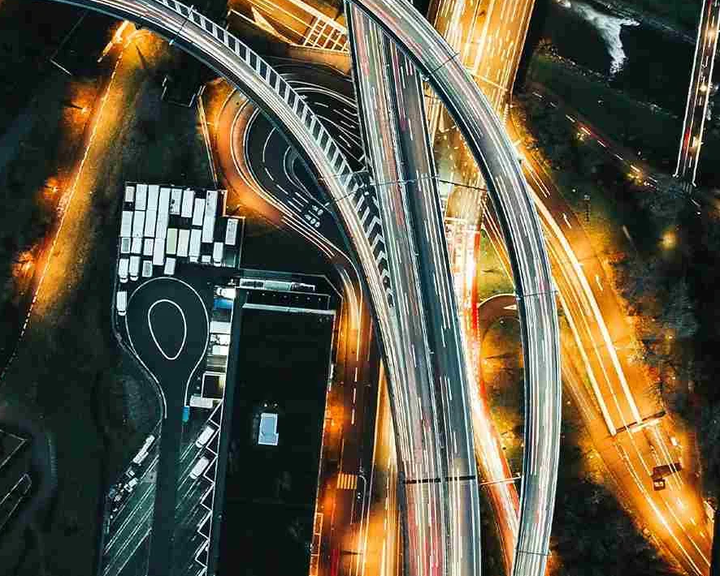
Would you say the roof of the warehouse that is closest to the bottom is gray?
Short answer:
No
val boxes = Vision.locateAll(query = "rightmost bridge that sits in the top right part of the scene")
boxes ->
[671,0,720,194]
